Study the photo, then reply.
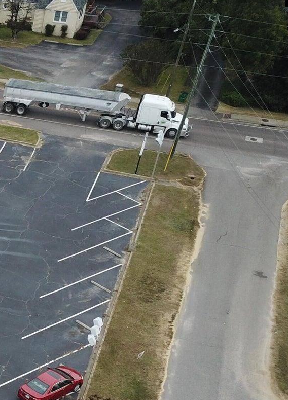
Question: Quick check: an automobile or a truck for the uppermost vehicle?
truck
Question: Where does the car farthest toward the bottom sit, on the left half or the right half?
left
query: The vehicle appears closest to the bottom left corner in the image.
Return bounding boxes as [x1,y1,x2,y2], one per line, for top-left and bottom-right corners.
[18,365,89,400]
